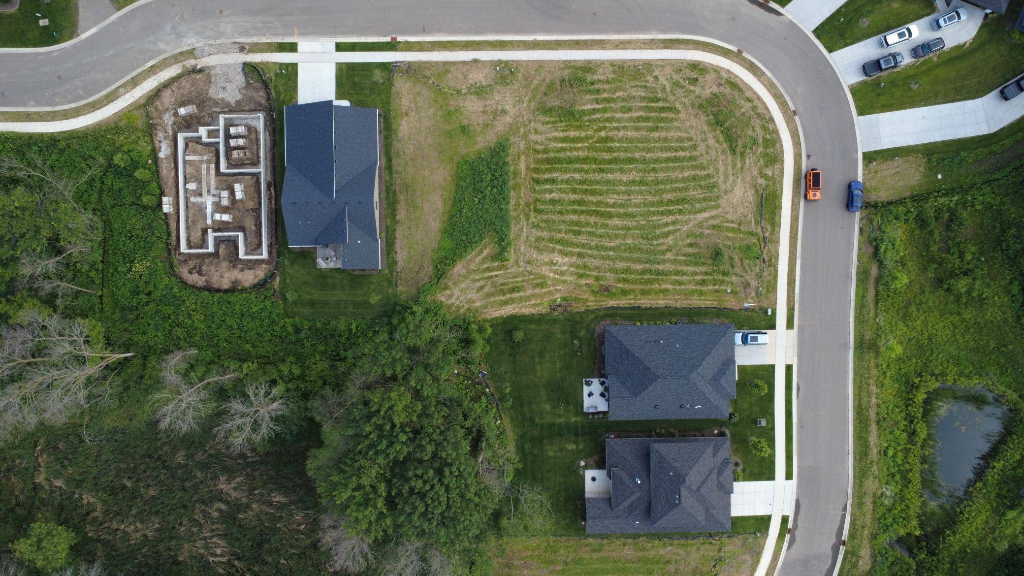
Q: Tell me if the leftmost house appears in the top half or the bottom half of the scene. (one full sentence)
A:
The leftmost house sits in the top half of the picture.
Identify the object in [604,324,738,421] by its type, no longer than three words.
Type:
house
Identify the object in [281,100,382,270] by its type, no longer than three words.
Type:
house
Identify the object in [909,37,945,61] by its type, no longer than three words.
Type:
car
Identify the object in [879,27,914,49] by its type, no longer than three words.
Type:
car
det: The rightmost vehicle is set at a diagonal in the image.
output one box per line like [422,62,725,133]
[996,73,1024,101]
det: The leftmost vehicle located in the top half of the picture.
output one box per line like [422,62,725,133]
[803,171,820,201]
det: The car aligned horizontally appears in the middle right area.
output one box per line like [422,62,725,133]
[733,330,767,347]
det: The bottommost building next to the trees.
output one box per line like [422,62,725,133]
[585,436,733,534]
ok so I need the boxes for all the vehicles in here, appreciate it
[909,37,945,61]
[929,9,964,33]
[844,182,863,212]
[860,55,900,78]
[803,171,820,201]
[733,330,767,347]
[996,73,1024,101]
[879,27,914,49]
